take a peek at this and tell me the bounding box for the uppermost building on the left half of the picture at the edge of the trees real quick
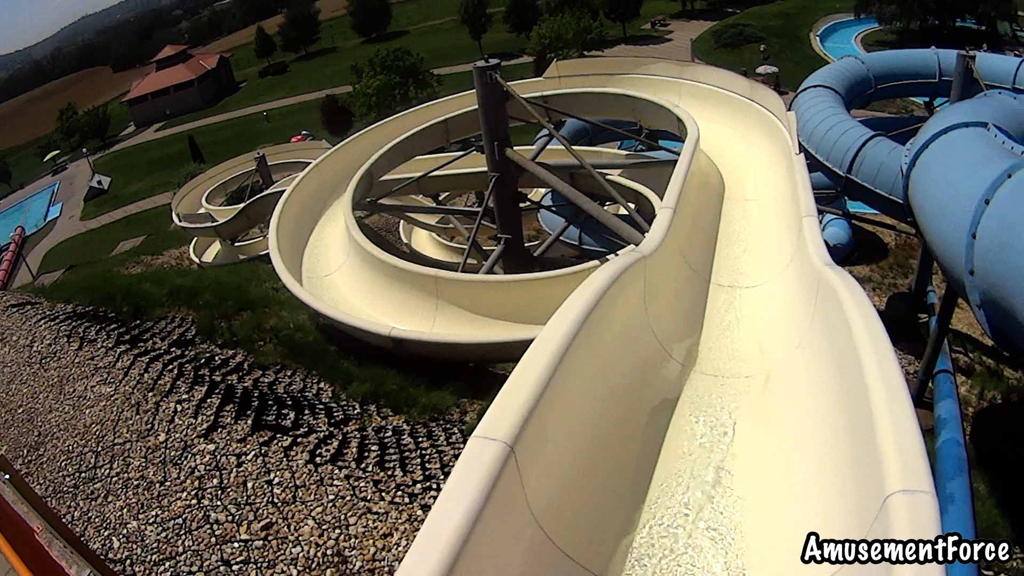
[111,34,240,128]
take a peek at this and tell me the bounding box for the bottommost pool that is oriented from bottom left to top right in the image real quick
[0,179,62,245]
